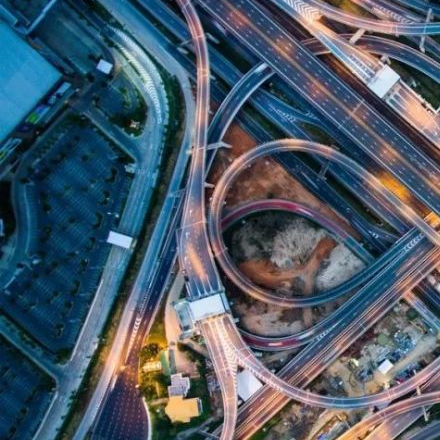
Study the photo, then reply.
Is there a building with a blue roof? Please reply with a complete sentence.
Yes, this view includes a building with a blue roof.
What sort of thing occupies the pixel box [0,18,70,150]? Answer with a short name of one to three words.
building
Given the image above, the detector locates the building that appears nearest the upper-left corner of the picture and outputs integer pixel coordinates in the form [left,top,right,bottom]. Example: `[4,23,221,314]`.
[0,0,59,34]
